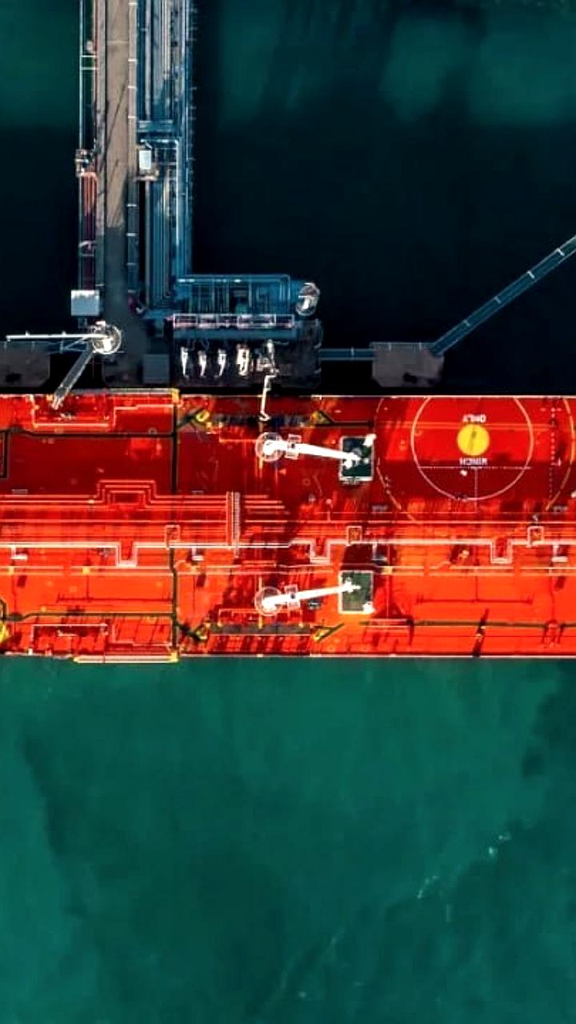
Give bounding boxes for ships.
[0,386,576,664]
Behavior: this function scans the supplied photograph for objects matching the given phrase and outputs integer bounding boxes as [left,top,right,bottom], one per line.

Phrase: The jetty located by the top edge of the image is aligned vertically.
[96,0,139,314]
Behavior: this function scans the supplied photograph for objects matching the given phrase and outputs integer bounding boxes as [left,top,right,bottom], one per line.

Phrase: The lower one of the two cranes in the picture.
[258,583,359,613]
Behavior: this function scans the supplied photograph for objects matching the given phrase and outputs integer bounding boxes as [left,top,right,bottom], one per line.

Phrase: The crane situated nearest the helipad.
[258,433,364,467]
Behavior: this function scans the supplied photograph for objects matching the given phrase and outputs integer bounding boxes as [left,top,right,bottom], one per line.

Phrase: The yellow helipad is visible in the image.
[373,399,574,524]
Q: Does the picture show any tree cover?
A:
No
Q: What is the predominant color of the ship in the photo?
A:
red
